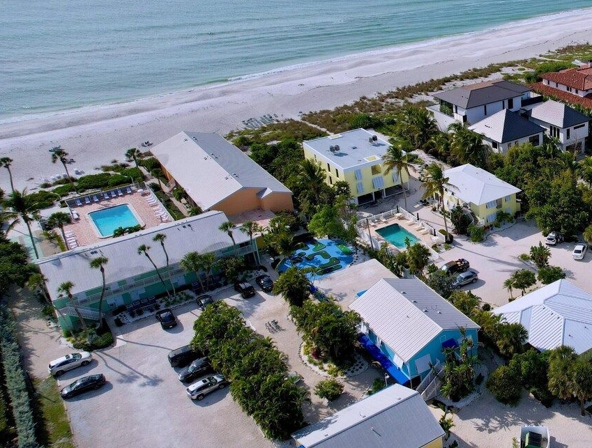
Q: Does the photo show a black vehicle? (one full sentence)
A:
Yes, the picture does show a black vehicle.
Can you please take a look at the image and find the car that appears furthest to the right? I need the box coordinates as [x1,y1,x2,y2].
[573,243,589,261]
